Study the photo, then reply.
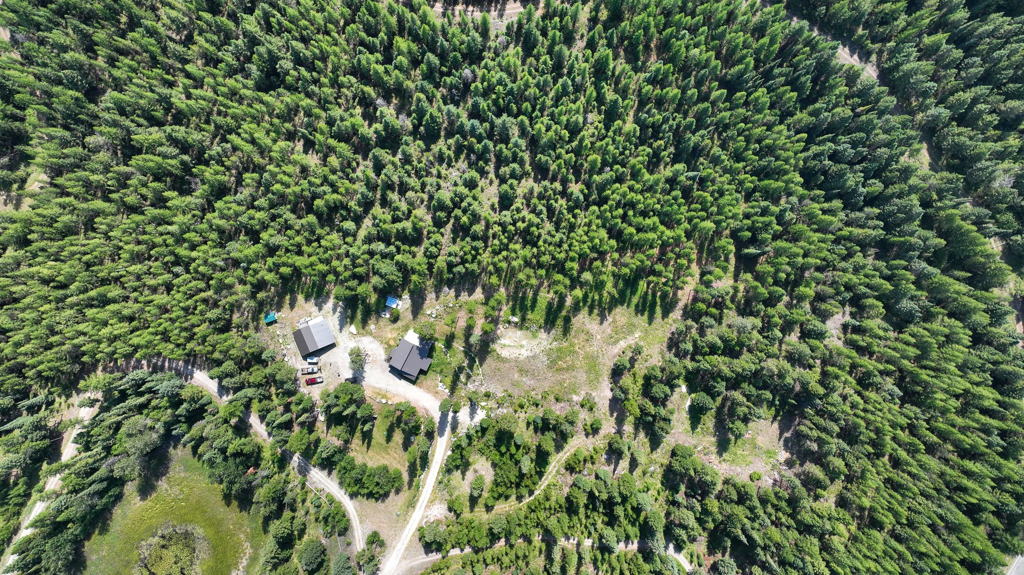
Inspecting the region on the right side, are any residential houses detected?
No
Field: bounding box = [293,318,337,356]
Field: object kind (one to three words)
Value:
building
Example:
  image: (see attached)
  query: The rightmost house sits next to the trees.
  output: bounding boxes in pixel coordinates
[390,330,433,381]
